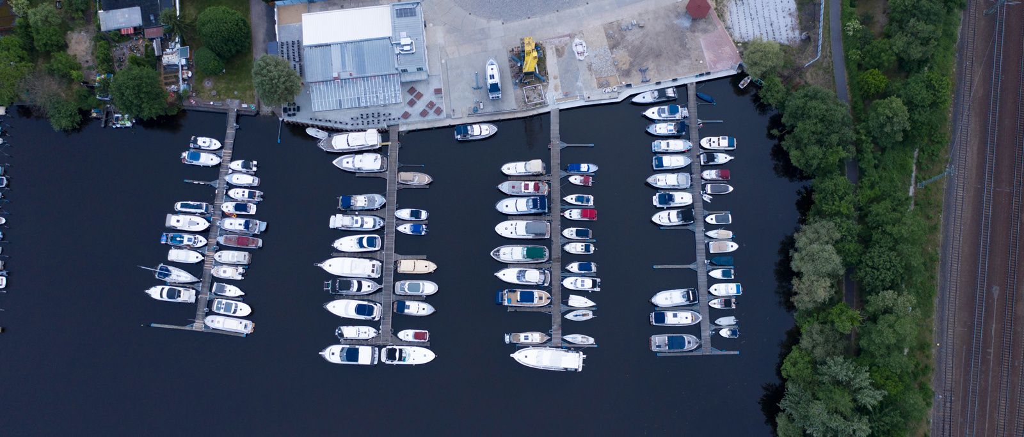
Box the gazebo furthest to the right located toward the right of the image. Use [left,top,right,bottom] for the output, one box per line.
[686,0,709,21]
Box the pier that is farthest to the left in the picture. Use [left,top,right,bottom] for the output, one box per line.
[151,112,259,337]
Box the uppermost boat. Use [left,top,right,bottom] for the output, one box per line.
[573,40,586,62]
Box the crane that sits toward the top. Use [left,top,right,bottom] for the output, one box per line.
[509,35,548,92]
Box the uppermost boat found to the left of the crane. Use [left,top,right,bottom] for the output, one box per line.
[486,58,501,102]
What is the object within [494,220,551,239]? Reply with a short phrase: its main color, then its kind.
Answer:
white boat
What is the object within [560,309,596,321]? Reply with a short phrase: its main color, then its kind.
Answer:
white boat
